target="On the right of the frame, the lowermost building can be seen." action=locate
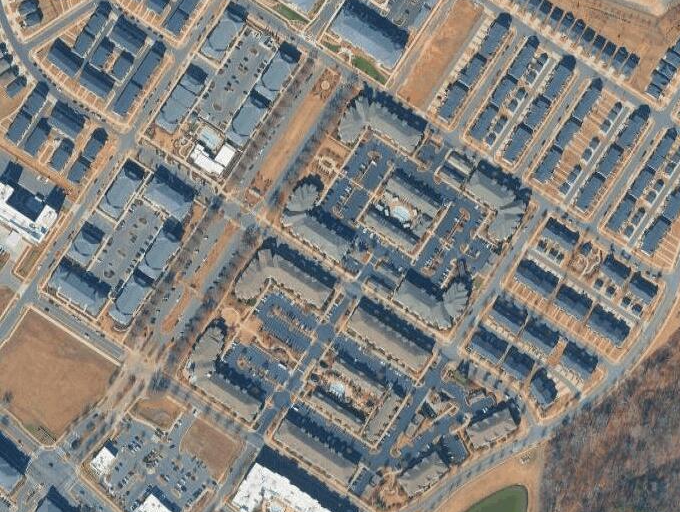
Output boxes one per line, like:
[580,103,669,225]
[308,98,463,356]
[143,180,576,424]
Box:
[399,455,449,498]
